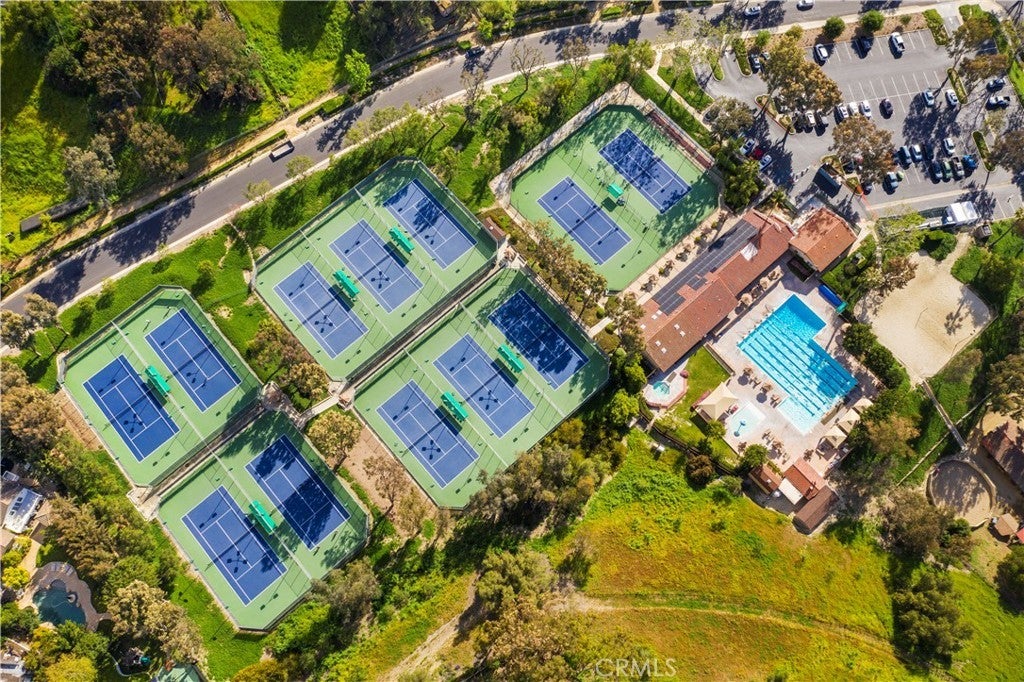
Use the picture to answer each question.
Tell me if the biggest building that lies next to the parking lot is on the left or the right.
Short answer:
right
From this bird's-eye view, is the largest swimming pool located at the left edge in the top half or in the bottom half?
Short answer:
bottom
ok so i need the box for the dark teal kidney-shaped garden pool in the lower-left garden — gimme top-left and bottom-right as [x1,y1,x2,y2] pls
[31,577,88,630]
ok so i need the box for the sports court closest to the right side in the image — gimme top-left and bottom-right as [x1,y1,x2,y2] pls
[855,229,995,389]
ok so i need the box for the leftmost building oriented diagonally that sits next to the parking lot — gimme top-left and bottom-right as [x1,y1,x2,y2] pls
[622,206,795,370]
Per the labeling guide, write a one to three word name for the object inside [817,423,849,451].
gazebo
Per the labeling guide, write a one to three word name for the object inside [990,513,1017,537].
shed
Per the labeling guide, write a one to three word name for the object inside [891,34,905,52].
vehicle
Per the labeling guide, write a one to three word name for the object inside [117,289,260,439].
tennis court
